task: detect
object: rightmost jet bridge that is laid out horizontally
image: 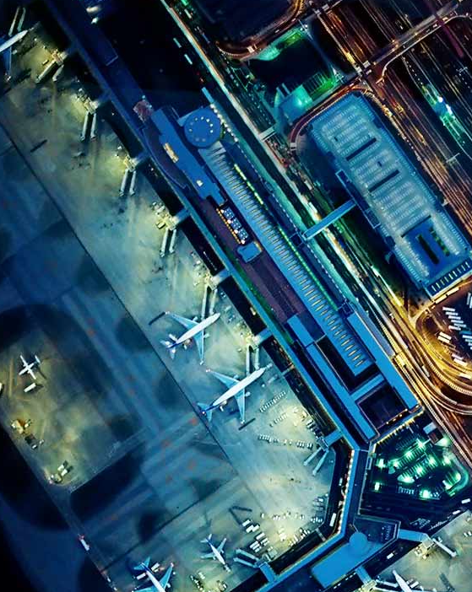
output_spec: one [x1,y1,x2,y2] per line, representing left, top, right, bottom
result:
[400,530,430,545]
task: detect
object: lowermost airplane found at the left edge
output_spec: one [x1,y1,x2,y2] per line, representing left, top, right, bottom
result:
[18,356,38,377]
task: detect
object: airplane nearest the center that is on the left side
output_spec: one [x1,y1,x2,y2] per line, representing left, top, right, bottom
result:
[157,307,219,364]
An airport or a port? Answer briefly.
airport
